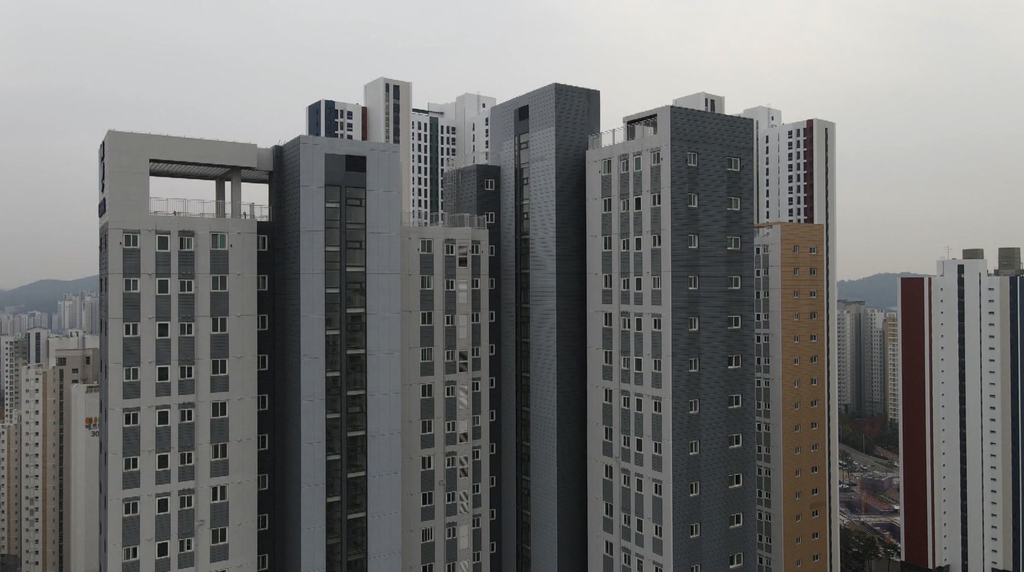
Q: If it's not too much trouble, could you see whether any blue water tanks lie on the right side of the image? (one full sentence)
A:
No, I can find no blue water tank on the right side of the image.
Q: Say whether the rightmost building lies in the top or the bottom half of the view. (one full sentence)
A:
It is in the bottom half that the rightmost building appears.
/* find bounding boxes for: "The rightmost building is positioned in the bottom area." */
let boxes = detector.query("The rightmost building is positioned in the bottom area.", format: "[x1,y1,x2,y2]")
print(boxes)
[898,259,1024,572]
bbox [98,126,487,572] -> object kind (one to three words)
building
